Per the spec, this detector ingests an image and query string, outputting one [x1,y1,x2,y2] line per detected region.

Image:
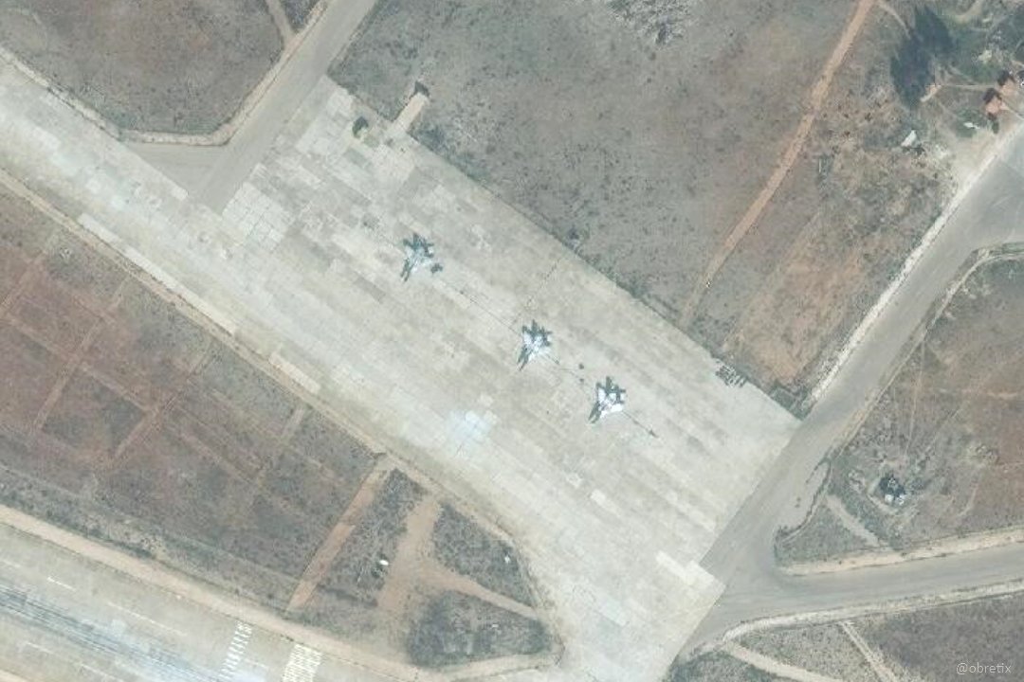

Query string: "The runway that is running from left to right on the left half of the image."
[0,523,396,682]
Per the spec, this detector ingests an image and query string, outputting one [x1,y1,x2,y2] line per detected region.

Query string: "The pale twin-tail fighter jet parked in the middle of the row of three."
[519,328,551,371]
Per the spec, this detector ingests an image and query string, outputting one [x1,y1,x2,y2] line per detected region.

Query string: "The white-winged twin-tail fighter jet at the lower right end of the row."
[590,384,625,425]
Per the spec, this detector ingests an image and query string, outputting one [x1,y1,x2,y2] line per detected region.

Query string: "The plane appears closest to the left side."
[404,241,435,282]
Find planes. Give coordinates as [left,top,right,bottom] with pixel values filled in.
[590,384,625,425]
[404,241,435,282]
[519,328,551,371]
